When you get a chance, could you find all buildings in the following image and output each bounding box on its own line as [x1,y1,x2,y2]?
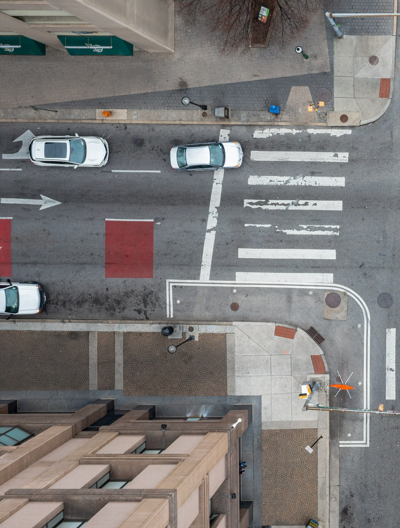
[0,0,173,57]
[0,416,238,528]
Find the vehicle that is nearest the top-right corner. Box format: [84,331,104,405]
[169,140,245,172]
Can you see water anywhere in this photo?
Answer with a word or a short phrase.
No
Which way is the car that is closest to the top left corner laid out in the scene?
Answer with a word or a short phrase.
horizontally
